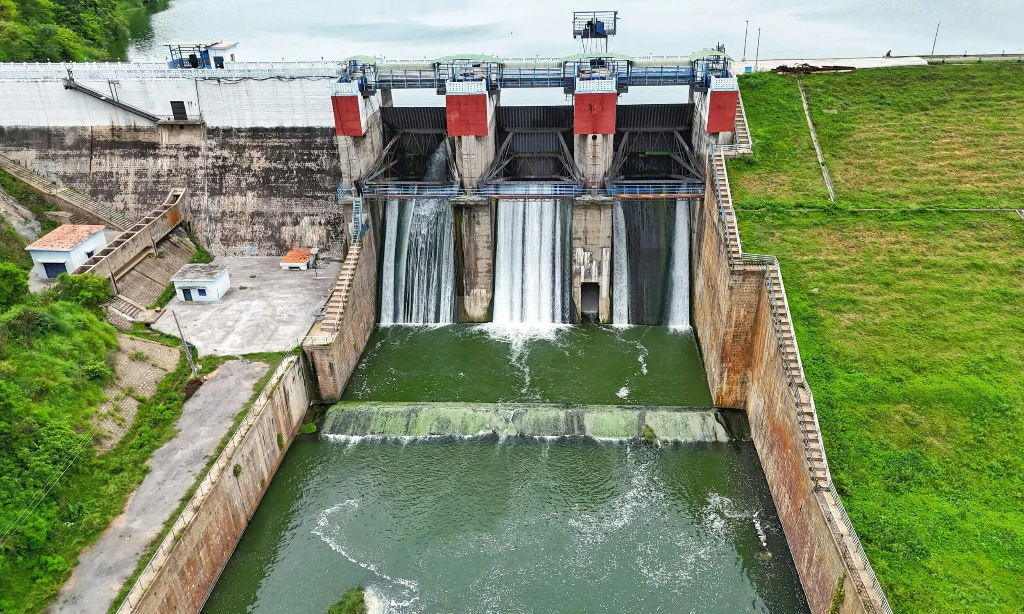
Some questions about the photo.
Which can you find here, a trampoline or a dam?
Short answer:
dam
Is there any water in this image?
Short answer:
Yes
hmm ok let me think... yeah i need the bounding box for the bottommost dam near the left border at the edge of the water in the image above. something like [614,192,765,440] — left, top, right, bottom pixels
[0,76,346,259]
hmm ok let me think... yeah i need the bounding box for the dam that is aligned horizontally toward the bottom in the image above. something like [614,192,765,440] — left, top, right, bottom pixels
[323,399,751,443]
